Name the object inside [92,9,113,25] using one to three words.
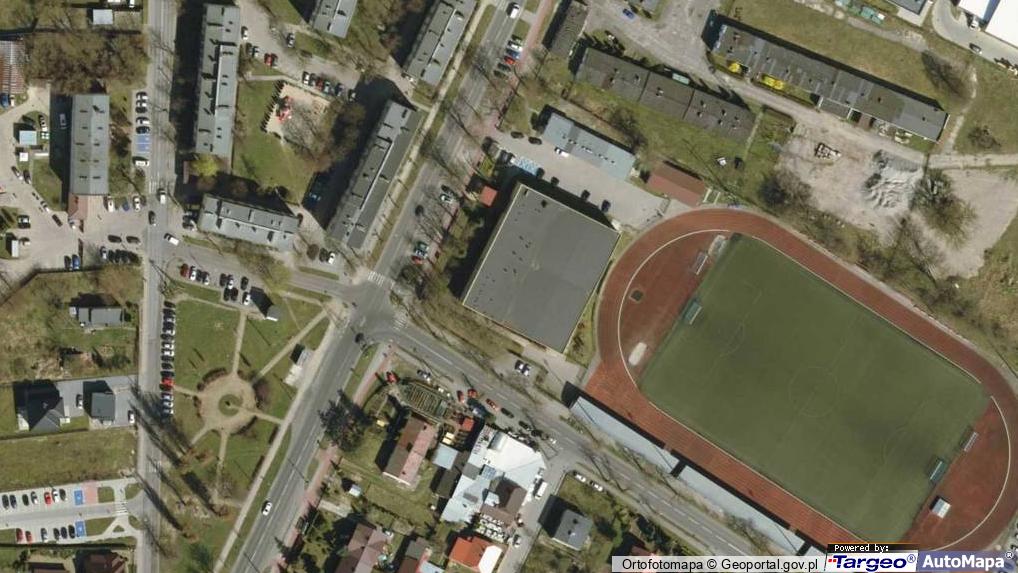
shed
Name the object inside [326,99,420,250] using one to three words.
building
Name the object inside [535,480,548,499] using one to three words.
vehicle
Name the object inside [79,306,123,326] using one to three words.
house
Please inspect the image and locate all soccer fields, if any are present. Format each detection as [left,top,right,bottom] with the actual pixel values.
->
[640,236,989,546]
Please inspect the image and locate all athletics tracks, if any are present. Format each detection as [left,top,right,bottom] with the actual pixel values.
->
[582,205,1018,573]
